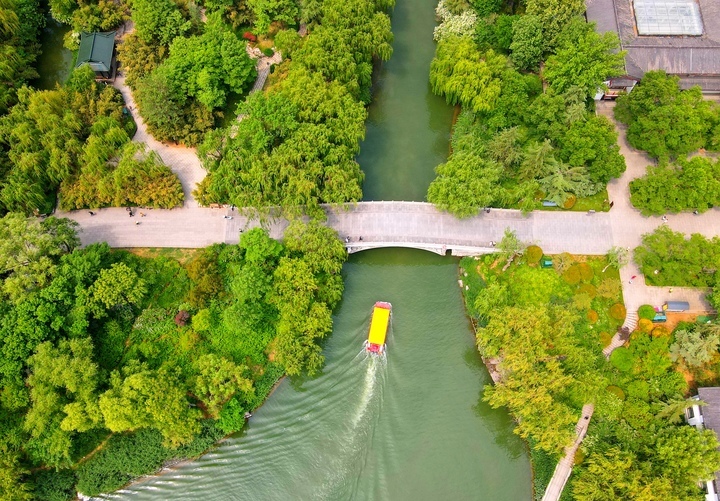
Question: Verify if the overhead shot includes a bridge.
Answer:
Yes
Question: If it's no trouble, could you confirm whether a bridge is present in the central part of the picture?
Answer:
Yes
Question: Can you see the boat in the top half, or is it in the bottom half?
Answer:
bottom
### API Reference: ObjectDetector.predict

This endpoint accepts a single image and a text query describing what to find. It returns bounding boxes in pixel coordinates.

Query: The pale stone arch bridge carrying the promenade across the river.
[221,199,619,254]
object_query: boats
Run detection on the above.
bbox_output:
[367,301,390,353]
